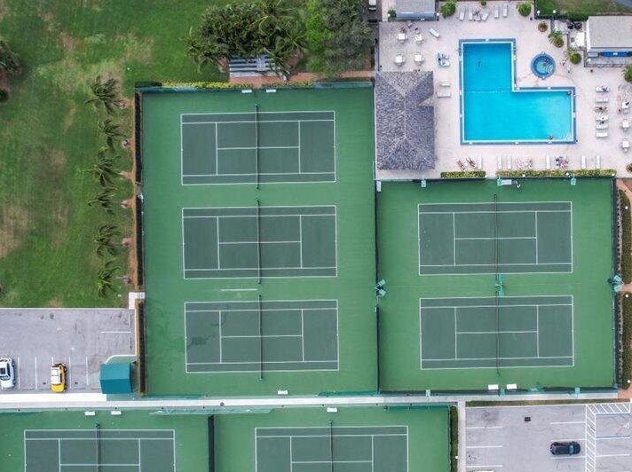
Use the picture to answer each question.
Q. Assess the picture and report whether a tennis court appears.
Yes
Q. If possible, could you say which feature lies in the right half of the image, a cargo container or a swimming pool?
swimming pool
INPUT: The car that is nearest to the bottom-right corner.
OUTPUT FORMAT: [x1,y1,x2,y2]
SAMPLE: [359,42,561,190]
[549,441,580,455]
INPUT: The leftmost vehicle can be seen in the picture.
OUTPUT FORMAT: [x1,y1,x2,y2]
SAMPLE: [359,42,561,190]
[0,358,18,388]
